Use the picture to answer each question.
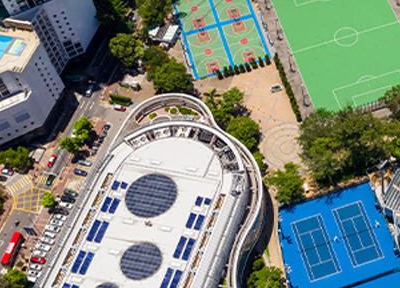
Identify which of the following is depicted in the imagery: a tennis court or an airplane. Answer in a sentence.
This aerial view contains a tennis court.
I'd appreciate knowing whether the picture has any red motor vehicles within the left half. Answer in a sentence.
Yes, there is a red motor vehicle within the left half.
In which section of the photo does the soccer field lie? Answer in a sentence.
The soccer field appears toward the top right of the photo.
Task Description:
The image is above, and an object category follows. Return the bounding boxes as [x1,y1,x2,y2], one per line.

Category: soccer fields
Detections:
[272,0,400,114]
